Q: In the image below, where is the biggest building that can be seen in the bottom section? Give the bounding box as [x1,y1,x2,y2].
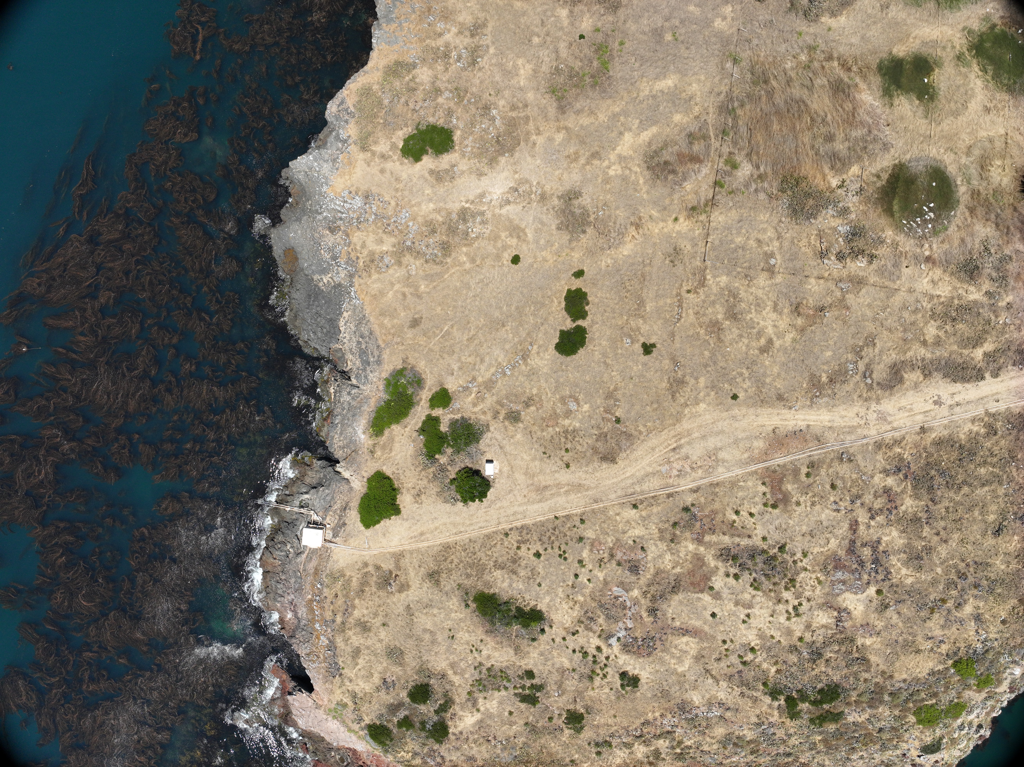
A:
[301,524,325,548]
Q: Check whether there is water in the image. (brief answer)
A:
Yes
